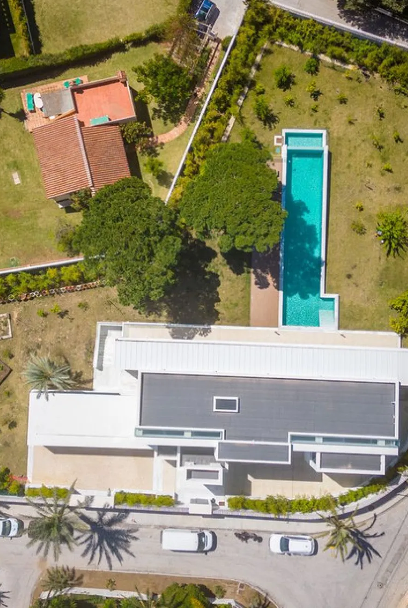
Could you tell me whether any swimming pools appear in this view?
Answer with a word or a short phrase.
Yes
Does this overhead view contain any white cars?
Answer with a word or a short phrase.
Yes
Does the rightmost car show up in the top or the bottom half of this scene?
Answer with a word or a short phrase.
bottom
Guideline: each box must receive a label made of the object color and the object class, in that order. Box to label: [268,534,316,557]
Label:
white car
